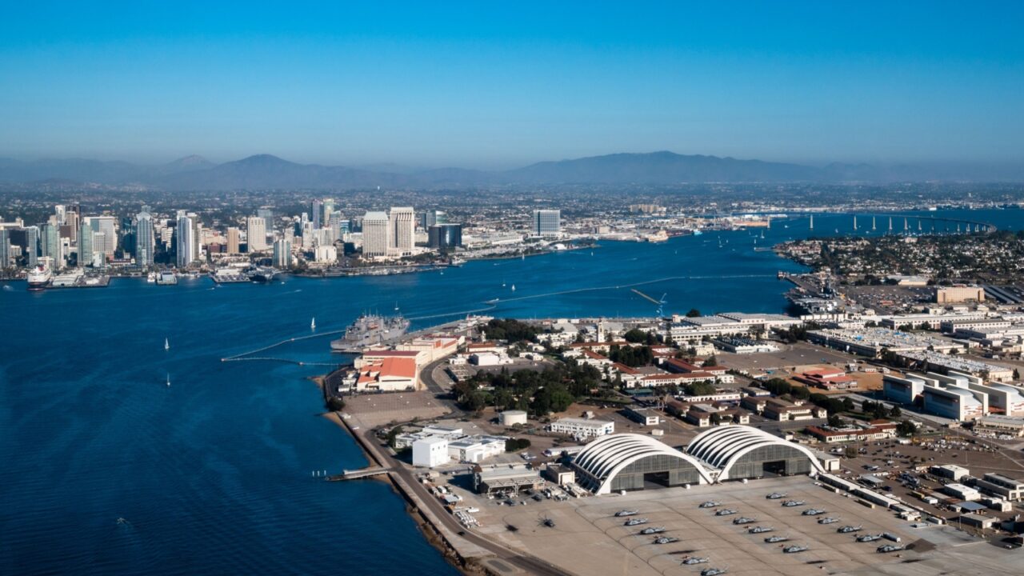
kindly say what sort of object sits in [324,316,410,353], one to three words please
ship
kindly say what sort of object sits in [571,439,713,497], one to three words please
hangar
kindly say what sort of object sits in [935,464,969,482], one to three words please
building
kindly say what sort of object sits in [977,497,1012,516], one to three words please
shed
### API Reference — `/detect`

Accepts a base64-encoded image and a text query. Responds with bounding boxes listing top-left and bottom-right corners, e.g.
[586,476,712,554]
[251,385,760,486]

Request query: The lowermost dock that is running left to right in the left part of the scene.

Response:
[327,470,388,484]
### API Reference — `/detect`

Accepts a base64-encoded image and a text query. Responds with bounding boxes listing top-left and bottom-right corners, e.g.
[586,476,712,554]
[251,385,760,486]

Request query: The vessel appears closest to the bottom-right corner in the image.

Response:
[790,274,833,312]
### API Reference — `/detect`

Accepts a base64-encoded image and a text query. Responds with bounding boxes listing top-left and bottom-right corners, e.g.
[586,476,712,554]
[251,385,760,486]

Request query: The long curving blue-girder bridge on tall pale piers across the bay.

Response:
[728,214,1000,233]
